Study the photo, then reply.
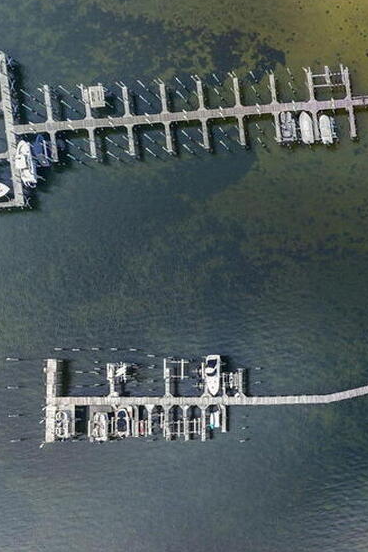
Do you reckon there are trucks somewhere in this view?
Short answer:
No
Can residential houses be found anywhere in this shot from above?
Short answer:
No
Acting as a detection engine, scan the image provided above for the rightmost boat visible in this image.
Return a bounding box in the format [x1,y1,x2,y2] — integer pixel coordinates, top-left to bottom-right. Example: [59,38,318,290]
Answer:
[321,114,335,148]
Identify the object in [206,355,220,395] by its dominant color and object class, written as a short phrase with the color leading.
white boat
